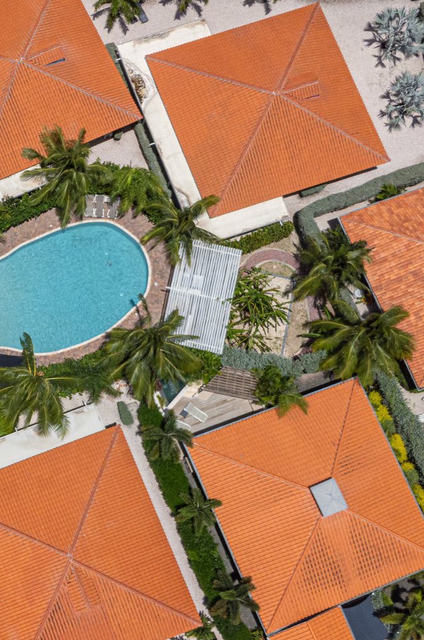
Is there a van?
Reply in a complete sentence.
No, I find no van anywhere in the image.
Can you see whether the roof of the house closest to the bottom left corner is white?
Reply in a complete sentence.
No, from above the roof of the house closest to the bottom left corner looks orange.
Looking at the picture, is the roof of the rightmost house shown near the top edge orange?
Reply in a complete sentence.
Yes, the roof of the rightmost house shown near the top edge is indeed orange.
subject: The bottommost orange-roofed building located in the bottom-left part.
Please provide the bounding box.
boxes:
[0,403,204,640]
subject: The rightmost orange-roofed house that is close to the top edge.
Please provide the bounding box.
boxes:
[117,0,392,247]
